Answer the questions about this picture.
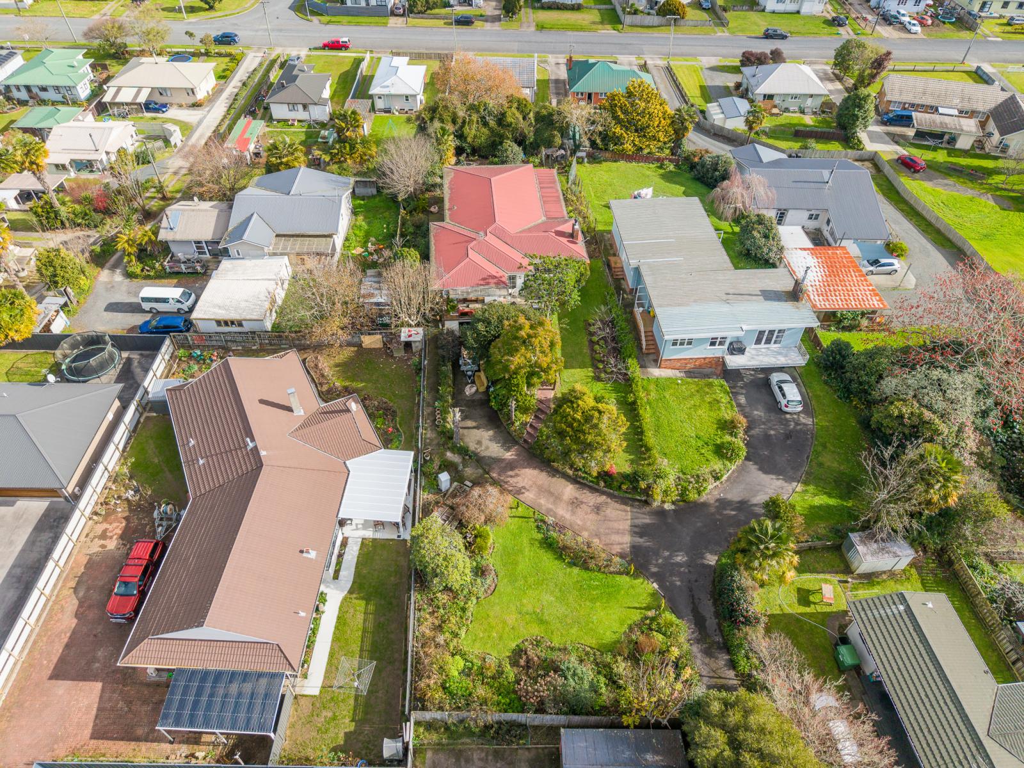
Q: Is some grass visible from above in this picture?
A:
Yes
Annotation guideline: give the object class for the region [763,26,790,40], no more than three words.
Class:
car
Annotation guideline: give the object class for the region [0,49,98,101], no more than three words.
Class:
house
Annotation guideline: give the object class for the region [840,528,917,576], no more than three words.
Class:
shed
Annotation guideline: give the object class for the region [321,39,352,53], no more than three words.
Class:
vehicle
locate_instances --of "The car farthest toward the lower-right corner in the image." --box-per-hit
[765,374,804,413]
